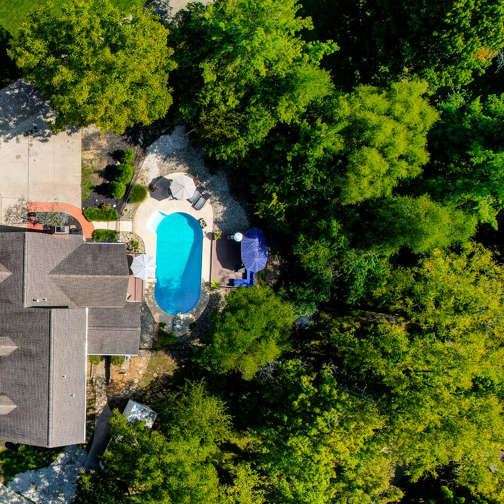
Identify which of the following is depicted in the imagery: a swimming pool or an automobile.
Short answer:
swimming pool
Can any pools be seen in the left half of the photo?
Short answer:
Yes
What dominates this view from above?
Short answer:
trees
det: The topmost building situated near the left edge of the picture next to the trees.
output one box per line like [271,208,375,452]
[0,224,140,448]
